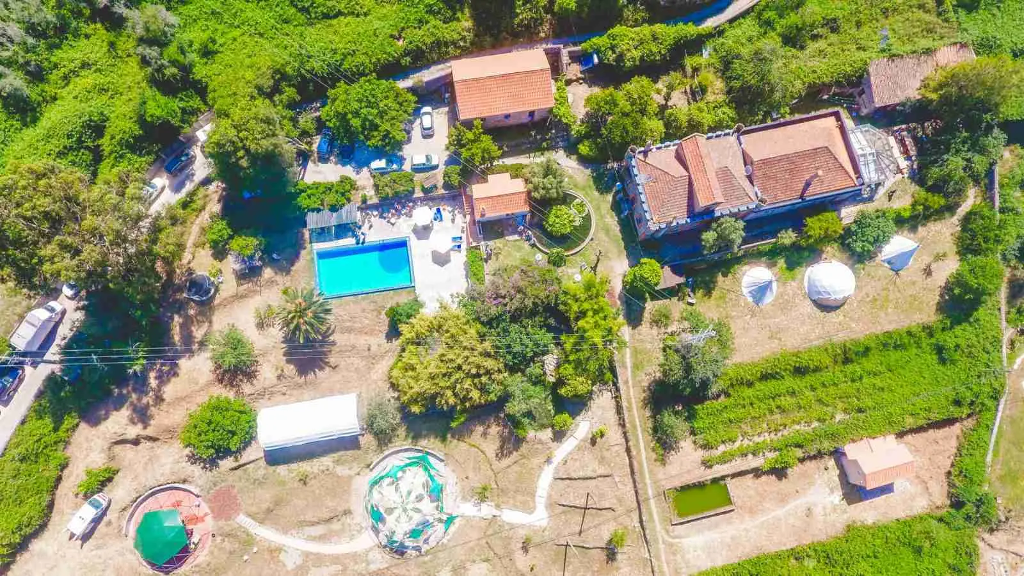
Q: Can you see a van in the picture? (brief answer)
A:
Yes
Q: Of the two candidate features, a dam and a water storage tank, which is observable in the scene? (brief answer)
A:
water storage tank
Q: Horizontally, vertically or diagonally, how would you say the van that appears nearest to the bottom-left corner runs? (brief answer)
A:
diagonally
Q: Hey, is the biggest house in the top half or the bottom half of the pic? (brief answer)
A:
top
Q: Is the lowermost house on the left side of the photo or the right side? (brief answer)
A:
right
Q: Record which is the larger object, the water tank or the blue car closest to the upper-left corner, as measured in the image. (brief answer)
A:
the water tank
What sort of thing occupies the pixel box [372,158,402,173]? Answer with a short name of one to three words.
car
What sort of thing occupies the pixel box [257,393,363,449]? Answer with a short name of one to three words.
tent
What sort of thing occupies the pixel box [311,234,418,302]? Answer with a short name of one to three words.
swimming pool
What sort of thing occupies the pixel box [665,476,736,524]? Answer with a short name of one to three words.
water tank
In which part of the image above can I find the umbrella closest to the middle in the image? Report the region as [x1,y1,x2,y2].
[430,231,451,255]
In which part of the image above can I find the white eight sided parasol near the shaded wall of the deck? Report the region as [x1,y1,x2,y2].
[413,207,433,227]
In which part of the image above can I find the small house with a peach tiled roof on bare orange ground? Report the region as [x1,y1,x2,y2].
[842,435,916,505]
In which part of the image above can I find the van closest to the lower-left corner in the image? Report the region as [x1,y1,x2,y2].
[65,492,113,538]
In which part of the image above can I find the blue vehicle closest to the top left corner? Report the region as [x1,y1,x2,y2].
[163,147,197,176]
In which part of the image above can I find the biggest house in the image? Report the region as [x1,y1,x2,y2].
[620,109,864,241]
